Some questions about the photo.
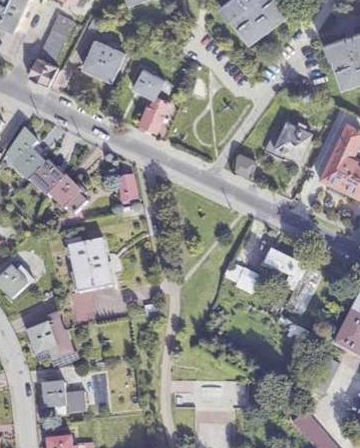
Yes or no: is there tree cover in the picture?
Yes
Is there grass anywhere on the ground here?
Yes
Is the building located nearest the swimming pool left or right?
left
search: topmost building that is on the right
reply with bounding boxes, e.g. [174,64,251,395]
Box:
[220,0,286,48]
